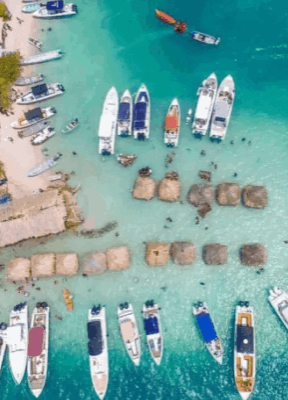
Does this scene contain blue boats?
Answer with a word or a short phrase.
Yes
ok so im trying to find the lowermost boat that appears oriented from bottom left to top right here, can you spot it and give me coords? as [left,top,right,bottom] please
[28,154,64,176]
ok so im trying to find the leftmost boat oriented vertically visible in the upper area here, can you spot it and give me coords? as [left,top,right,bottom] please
[98,86,119,159]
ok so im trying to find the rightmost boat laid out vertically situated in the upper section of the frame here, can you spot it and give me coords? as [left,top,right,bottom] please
[210,74,234,145]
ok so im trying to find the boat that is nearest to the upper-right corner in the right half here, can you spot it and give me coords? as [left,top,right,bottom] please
[194,32,224,47]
